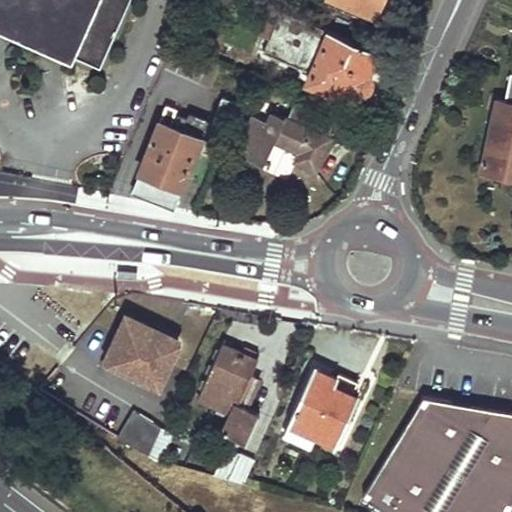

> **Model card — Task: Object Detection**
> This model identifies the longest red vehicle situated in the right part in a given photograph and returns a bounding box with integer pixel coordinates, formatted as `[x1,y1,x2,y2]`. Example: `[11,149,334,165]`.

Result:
[324,154,336,173]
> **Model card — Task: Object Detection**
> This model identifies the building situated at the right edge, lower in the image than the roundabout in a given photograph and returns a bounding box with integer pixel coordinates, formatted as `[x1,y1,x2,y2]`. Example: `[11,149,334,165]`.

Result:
[357,402,512,512]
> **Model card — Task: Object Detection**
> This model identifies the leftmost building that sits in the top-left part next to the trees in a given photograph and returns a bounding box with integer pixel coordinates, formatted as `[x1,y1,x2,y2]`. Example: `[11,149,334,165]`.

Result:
[0,0,130,69]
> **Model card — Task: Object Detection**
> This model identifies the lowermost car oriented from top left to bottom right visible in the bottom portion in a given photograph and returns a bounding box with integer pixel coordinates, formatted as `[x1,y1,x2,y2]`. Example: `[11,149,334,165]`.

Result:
[56,322,76,340]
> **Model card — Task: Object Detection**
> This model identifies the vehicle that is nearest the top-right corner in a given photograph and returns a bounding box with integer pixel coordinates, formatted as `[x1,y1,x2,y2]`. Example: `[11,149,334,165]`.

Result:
[406,111,420,132]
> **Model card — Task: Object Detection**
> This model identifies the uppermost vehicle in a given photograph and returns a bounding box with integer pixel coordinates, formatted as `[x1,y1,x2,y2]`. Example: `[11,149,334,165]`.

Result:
[146,56,160,77]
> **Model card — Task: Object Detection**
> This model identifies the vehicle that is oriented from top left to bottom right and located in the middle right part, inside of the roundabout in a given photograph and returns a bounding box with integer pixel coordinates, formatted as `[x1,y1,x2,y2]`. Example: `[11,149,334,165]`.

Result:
[376,220,398,240]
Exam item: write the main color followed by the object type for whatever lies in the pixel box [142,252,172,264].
white vehicle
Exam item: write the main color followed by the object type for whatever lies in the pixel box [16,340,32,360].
gray car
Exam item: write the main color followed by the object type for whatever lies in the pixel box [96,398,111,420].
white car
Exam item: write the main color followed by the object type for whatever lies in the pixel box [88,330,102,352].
white car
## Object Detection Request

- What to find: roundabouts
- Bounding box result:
[284,0,471,326]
